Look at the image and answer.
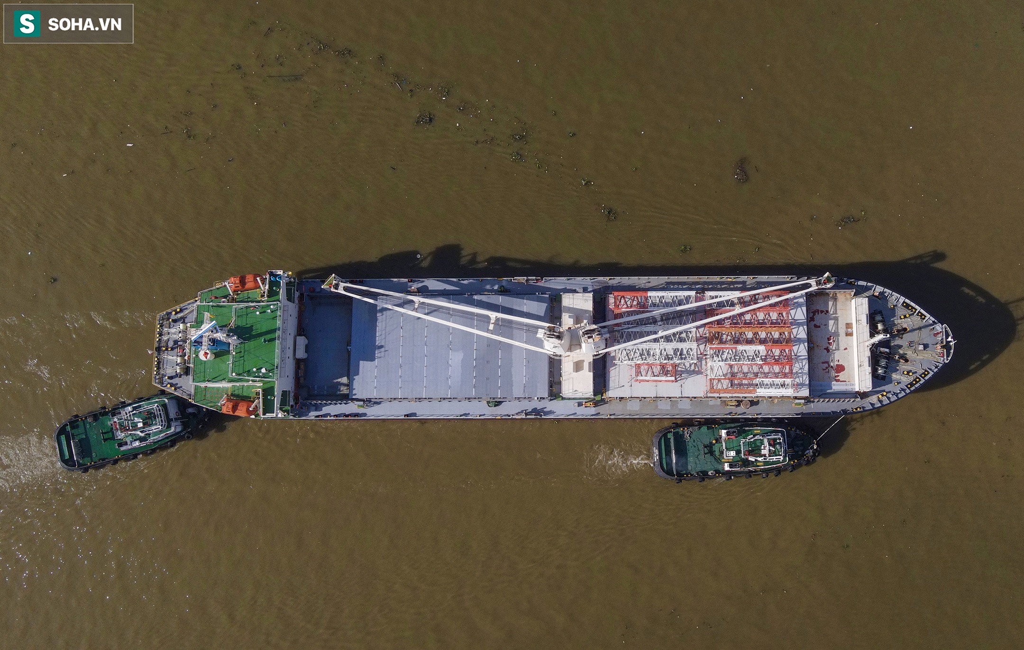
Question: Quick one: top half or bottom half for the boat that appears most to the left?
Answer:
bottom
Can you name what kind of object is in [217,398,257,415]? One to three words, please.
boat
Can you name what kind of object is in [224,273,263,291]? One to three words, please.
boat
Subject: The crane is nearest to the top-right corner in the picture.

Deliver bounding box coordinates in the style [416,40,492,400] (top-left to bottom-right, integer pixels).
[575,270,837,360]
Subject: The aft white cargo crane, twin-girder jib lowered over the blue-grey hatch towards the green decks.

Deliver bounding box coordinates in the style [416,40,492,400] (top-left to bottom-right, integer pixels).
[324,272,578,360]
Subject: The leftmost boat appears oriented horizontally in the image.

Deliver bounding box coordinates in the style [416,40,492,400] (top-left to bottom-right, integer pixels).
[52,392,216,470]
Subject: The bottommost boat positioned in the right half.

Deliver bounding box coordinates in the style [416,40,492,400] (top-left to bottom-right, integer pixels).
[650,419,826,483]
